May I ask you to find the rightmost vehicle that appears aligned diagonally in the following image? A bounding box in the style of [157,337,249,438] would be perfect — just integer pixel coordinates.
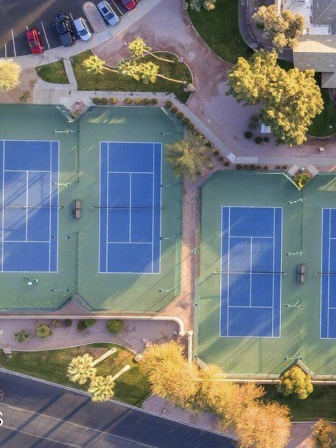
[96,1,120,25]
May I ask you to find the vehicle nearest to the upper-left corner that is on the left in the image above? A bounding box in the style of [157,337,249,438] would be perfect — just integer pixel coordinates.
[25,28,45,55]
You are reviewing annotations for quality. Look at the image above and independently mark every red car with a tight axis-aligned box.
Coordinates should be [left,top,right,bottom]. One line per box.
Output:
[25,28,45,55]
[119,0,135,9]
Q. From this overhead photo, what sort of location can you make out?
sports ground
